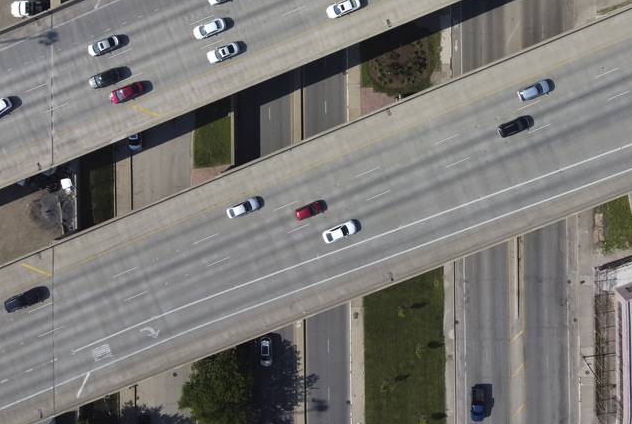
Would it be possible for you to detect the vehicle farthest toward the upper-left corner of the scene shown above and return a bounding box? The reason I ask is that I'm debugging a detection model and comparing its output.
[9,0,56,18]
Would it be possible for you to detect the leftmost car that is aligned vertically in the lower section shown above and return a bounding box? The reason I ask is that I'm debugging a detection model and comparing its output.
[259,335,273,365]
